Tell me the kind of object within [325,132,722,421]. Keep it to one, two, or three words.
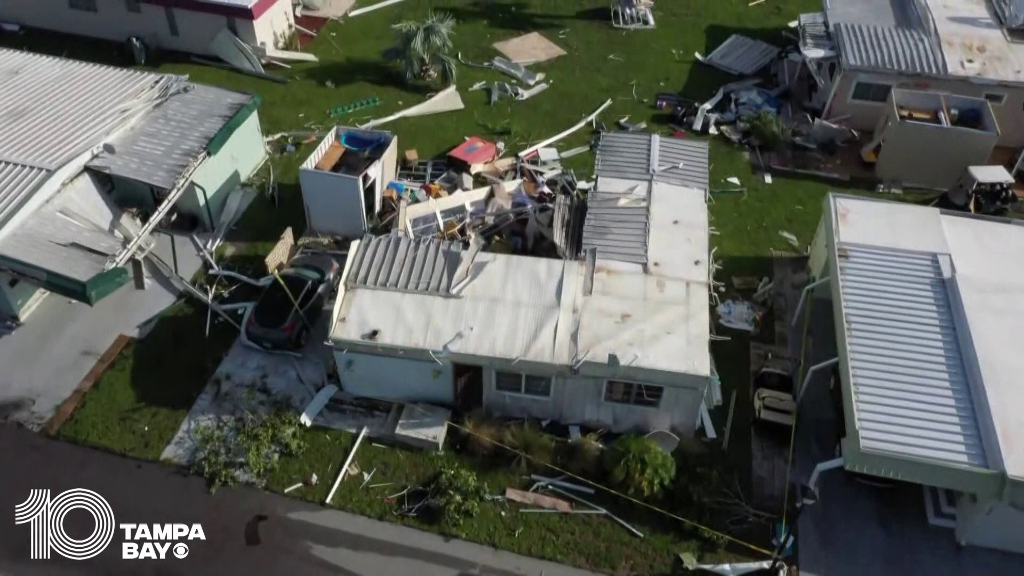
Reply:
house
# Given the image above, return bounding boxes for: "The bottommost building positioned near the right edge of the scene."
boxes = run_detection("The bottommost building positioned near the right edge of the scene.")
[791,187,1024,550]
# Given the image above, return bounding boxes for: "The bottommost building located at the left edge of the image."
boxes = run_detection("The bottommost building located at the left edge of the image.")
[0,47,276,300]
